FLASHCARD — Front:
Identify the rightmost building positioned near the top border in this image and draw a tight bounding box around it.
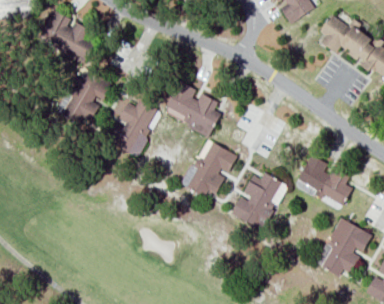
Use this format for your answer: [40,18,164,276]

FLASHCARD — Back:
[320,13,384,73]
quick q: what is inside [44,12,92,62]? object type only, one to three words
house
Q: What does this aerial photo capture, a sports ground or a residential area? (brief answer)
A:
residential area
